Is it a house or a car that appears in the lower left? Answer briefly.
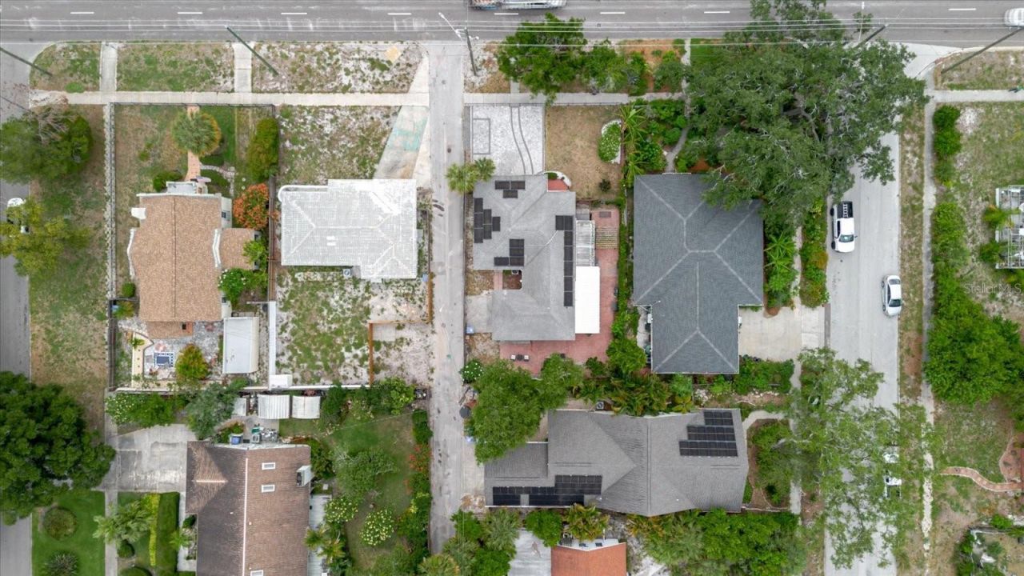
house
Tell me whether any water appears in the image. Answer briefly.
No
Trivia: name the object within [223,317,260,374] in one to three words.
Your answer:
shed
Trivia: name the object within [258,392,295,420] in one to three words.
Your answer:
shed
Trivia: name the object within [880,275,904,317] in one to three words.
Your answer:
car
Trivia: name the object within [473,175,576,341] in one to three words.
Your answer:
house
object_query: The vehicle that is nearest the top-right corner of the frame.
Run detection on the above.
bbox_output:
[1002,3,1024,27]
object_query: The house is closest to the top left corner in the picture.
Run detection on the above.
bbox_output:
[125,183,262,338]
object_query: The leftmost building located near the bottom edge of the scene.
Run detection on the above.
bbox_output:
[180,439,324,576]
